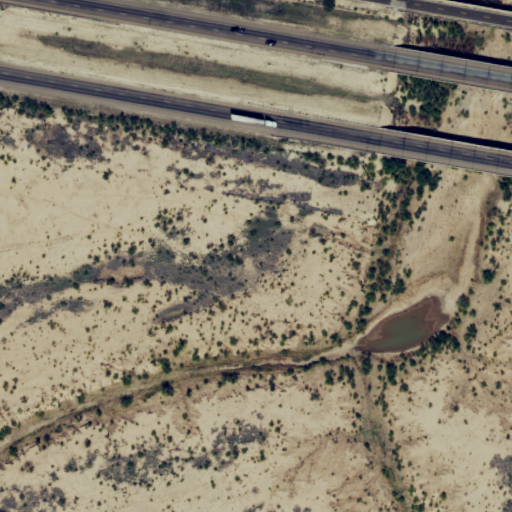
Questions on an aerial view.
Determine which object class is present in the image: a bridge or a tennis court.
bridge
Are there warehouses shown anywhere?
No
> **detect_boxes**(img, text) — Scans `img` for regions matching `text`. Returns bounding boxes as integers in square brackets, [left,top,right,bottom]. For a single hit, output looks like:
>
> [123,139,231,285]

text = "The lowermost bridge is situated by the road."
[379,128,512,178]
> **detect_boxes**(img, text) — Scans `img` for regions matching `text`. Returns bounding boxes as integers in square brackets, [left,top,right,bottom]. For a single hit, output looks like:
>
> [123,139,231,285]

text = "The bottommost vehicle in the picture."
[230,114,276,126]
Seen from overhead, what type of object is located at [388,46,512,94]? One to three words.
bridge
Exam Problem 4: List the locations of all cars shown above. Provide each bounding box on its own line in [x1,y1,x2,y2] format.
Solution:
[266,40,276,46]
[230,27,240,32]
